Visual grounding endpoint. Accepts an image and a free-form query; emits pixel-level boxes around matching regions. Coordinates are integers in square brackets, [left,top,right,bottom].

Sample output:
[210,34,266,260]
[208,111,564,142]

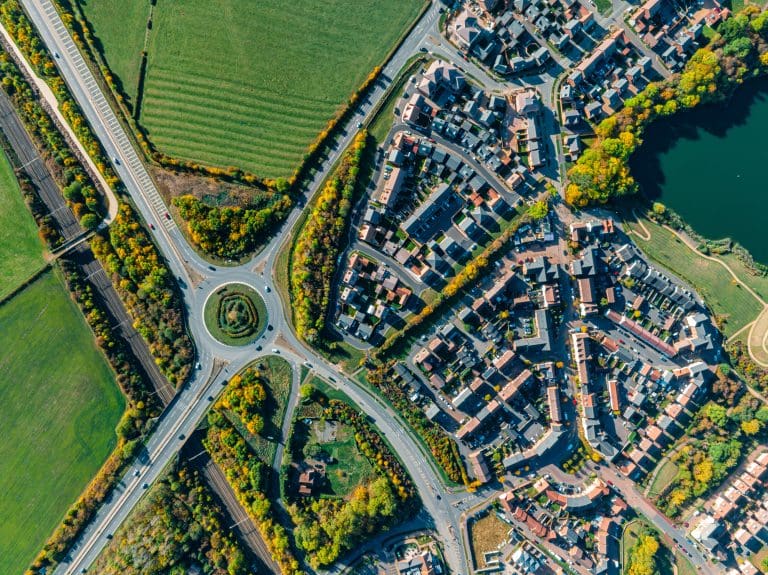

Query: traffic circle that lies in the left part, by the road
[187,266,284,363]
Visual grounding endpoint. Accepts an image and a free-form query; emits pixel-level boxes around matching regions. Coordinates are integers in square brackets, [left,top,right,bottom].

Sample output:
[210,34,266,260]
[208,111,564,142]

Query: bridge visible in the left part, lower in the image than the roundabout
[148,380,222,442]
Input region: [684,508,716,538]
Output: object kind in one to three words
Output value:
building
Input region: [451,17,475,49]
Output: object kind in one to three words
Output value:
building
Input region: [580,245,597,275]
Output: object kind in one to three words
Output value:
house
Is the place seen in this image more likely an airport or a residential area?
residential area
